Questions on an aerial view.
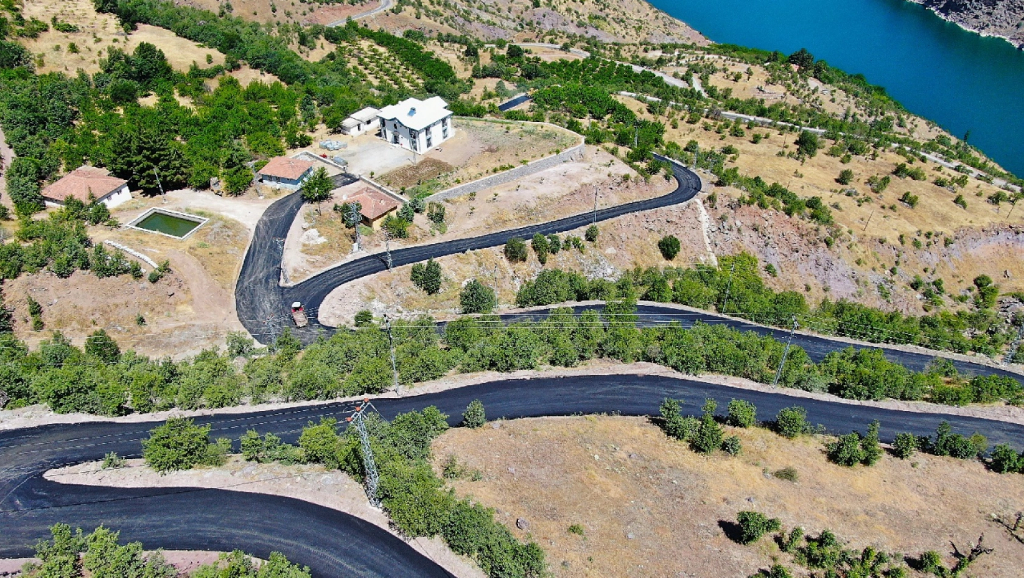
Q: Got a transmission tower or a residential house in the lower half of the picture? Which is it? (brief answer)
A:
transmission tower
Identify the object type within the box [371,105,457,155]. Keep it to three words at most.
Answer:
house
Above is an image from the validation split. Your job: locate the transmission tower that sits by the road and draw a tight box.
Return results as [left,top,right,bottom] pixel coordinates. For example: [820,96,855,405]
[340,401,382,514]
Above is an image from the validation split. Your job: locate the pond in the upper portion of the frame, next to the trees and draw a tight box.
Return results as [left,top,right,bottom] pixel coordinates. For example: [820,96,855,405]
[127,207,208,240]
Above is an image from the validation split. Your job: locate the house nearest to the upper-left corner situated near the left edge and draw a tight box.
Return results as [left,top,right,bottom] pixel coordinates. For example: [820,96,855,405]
[38,172,141,212]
